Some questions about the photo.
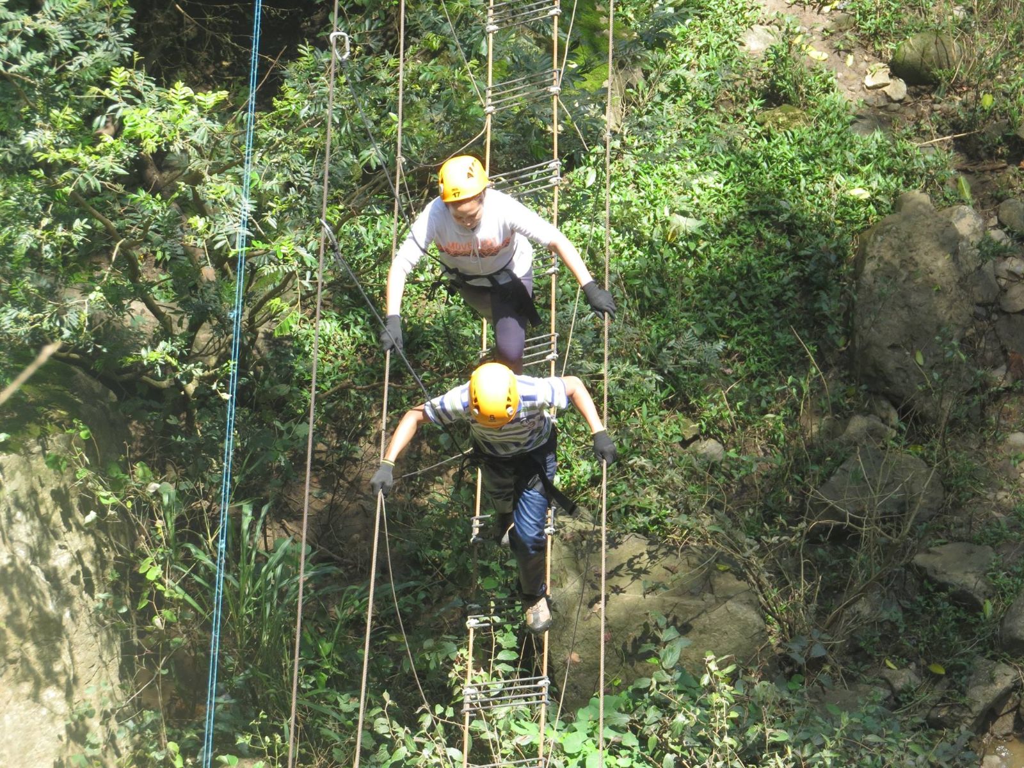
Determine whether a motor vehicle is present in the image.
No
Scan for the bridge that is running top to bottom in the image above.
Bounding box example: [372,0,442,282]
[353,0,614,768]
